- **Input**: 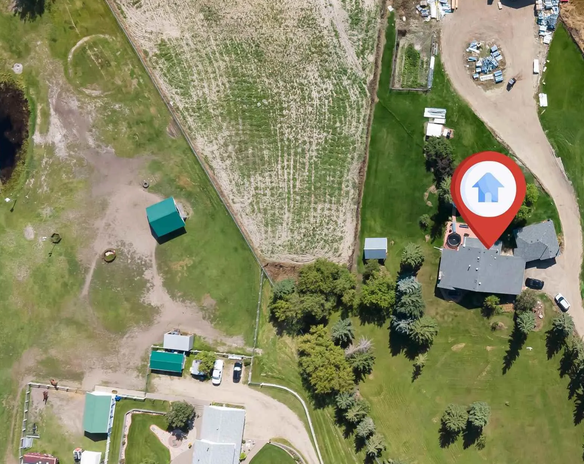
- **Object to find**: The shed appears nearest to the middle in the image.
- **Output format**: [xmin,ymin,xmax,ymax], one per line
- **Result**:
[364,238,389,259]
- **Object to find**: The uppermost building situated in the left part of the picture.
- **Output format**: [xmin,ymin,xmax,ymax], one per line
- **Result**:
[145,196,189,237]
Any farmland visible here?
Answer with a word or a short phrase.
Yes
